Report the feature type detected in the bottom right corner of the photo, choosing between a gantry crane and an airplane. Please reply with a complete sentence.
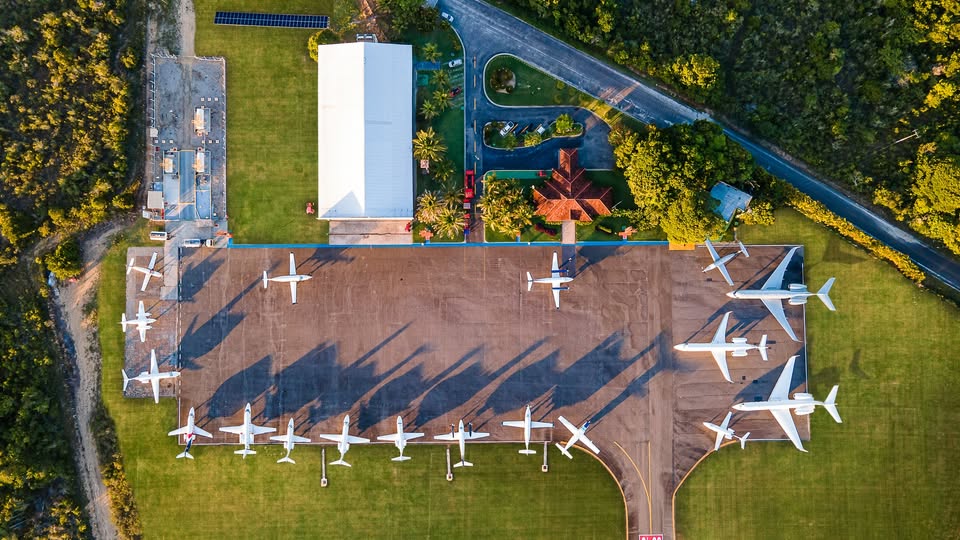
Visible in the bottom right corner of the photo is an airplane.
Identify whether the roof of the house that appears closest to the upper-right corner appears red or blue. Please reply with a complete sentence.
In this view, the roof of the house that appears closest to the upper-right corner is blue.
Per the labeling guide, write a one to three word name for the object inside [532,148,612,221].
building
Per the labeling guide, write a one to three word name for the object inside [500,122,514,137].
car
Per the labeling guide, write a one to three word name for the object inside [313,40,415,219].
hangar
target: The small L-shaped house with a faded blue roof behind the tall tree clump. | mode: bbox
[704,182,752,222]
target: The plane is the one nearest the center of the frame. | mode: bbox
[528,252,573,309]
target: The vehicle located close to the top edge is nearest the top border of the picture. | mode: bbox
[441,10,456,23]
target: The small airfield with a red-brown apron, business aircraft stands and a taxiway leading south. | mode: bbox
[125,219,810,540]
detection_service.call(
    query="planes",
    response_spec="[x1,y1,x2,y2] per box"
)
[700,239,750,286]
[674,310,765,382]
[319,415,368,471]
[121,301,156,342]
[528,252,573,309]
[433,421,491,470]
[731,352,841,453]
[502,405,555,456]
[378,416,425,461]
[128,251,163,292]
[727,246,834,343]
[704,412,750,451]
[557,414,599,456]
[269,419,311,464]
[122,349,181,403]
[263,252,313,305]
[169,408,214,458]
[220,404,278,459]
